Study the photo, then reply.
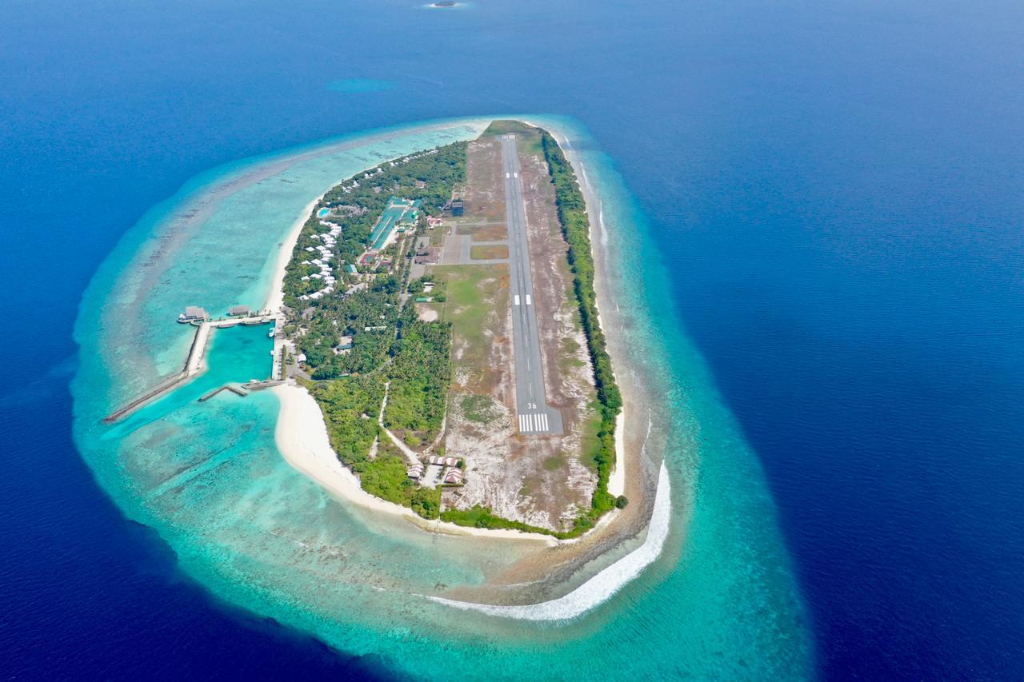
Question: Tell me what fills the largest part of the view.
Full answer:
The bulk of the photo consists of water.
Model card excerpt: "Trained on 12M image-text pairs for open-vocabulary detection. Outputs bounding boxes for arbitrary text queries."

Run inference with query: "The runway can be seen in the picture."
[495,133,564,435]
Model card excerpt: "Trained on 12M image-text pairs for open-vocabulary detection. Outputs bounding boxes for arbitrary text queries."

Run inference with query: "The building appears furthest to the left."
[173,308,209,326]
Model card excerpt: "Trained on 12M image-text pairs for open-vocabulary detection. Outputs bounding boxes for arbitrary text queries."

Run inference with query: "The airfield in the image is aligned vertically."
[439,133,564,435]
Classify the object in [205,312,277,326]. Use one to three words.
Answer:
pier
